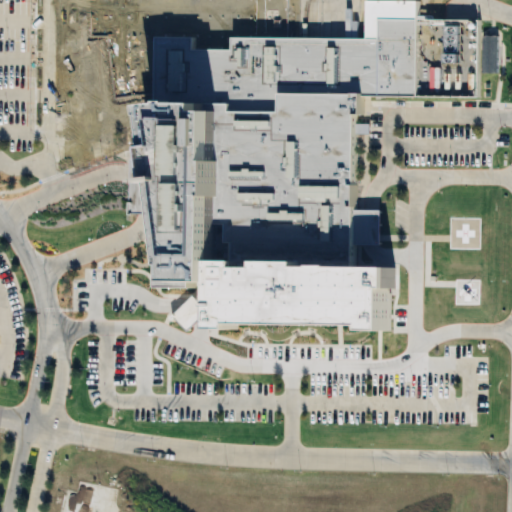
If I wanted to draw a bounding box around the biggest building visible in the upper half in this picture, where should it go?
[126,1,422,330]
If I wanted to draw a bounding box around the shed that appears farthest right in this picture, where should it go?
[482,35,500,73]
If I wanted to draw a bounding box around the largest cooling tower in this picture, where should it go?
[444,23,461,54]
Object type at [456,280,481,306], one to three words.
helipad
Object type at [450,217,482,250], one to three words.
helipad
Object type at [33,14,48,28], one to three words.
vehicle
